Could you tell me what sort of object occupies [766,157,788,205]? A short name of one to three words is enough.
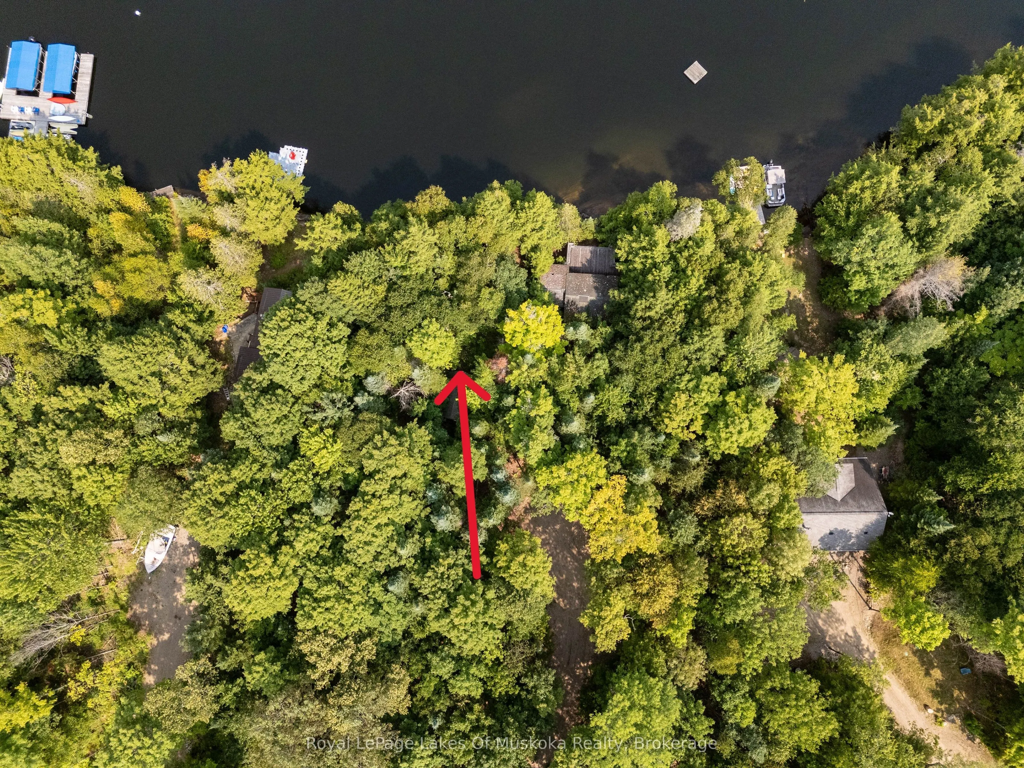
boat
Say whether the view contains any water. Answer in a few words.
Yes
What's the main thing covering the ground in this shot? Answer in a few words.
trees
